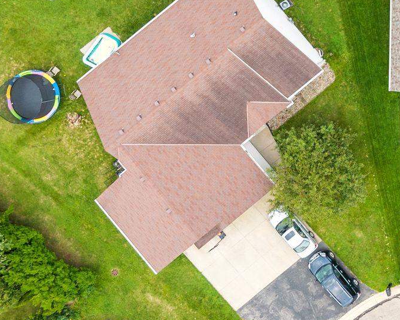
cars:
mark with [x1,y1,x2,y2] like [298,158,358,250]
[268,205,319,264]
[306,252,362,318]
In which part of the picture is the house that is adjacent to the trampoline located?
center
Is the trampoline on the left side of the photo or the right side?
left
